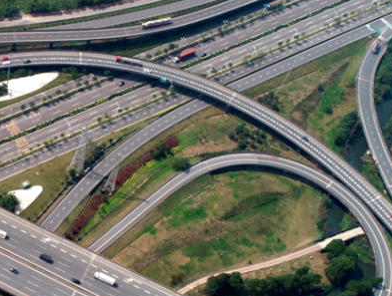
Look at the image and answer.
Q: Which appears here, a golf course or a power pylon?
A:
power pylon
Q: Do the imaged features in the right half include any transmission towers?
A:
No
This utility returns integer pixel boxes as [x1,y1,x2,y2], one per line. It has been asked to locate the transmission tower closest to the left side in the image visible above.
[68,125,95,175]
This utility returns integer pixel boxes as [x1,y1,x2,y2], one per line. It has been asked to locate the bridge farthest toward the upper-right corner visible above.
[355,38,392,199]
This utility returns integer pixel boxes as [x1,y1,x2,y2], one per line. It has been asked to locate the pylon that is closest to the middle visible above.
[98,149,128,194]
